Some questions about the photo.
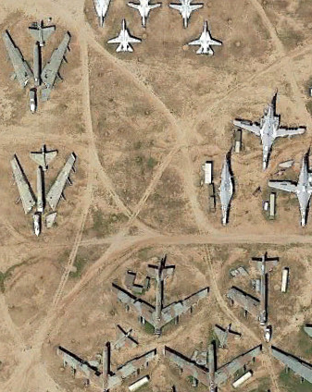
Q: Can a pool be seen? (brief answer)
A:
No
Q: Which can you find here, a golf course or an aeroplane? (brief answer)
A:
aeroplane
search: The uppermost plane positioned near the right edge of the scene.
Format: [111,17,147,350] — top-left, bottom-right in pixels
[233,97,305,171]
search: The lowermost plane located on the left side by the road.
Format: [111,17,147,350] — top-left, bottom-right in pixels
[58,344,155,392]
